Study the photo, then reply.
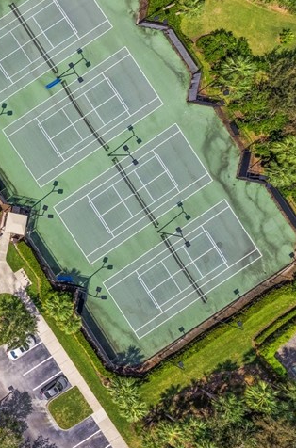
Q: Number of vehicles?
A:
2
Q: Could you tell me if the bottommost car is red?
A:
No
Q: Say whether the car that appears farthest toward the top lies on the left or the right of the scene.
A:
left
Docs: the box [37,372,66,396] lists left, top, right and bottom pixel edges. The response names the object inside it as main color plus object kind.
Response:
gray car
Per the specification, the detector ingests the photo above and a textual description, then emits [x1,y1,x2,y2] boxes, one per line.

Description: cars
[37,372,66,396]
[8,335,38,359]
